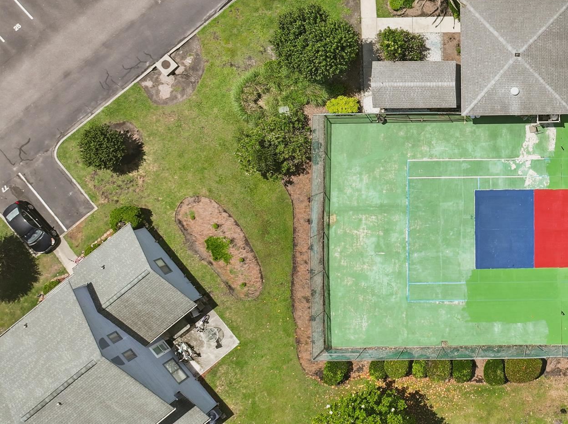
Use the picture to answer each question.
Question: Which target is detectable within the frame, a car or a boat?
car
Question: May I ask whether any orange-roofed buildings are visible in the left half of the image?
No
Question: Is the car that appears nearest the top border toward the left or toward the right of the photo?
left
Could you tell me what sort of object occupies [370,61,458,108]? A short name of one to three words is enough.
shed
